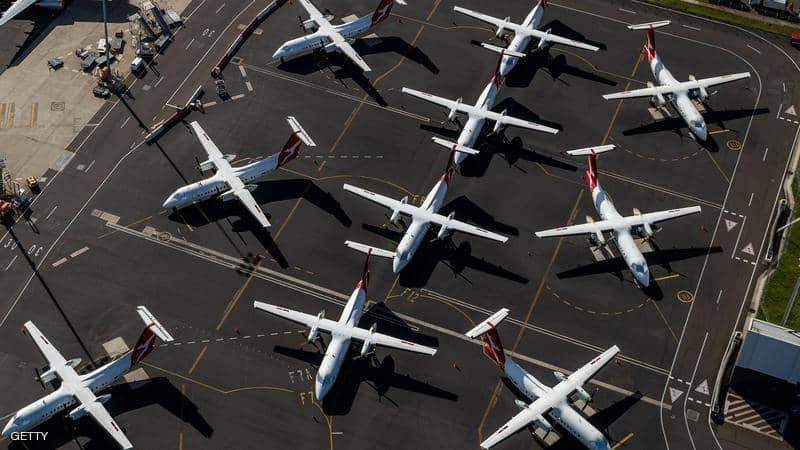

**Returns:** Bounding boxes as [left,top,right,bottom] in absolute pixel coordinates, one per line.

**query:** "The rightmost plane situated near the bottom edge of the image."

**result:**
[466,309,621,450]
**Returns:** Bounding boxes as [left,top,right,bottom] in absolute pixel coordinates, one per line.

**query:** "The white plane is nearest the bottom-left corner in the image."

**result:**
[2,305,175,448]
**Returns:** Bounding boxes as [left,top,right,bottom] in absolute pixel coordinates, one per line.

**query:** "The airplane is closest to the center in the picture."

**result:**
[342,136,508,272]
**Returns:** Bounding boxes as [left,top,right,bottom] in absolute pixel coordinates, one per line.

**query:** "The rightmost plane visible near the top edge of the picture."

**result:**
[605,20,751,138]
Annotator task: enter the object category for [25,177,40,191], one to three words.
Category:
vehicle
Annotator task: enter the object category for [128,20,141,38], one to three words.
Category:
vehicle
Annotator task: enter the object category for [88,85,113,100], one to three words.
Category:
car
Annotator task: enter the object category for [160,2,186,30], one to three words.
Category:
truck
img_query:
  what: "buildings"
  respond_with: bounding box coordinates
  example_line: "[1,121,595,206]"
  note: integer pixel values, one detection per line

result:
[730,318,800,413]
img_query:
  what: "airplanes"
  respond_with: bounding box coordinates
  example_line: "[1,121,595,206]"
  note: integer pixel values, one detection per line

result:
[401,41,558,162]
[252,240,437,398]
[537,144,702,284]
[162,116,316,227]
[454,0,598,74]
[342,136,508,272]
[605,20,751,138]
[466,309,621,450]
[2,305,175,448]
[0,0,66,20]
[272,0,408,70]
